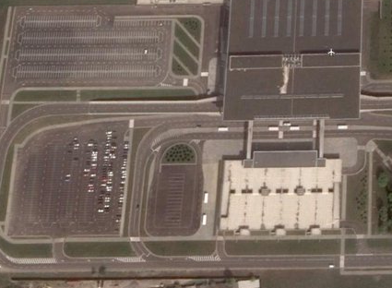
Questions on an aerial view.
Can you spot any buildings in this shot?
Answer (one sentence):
Yes, there is a building in the image.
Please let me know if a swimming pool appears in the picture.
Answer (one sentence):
No, there appears to be no swimming pool in this shot.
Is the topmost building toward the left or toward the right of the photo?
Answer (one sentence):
You can find the topmost building on the right side of the picture.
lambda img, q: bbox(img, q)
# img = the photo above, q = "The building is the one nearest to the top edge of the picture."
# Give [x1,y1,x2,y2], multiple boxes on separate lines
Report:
[221,0,363,120]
